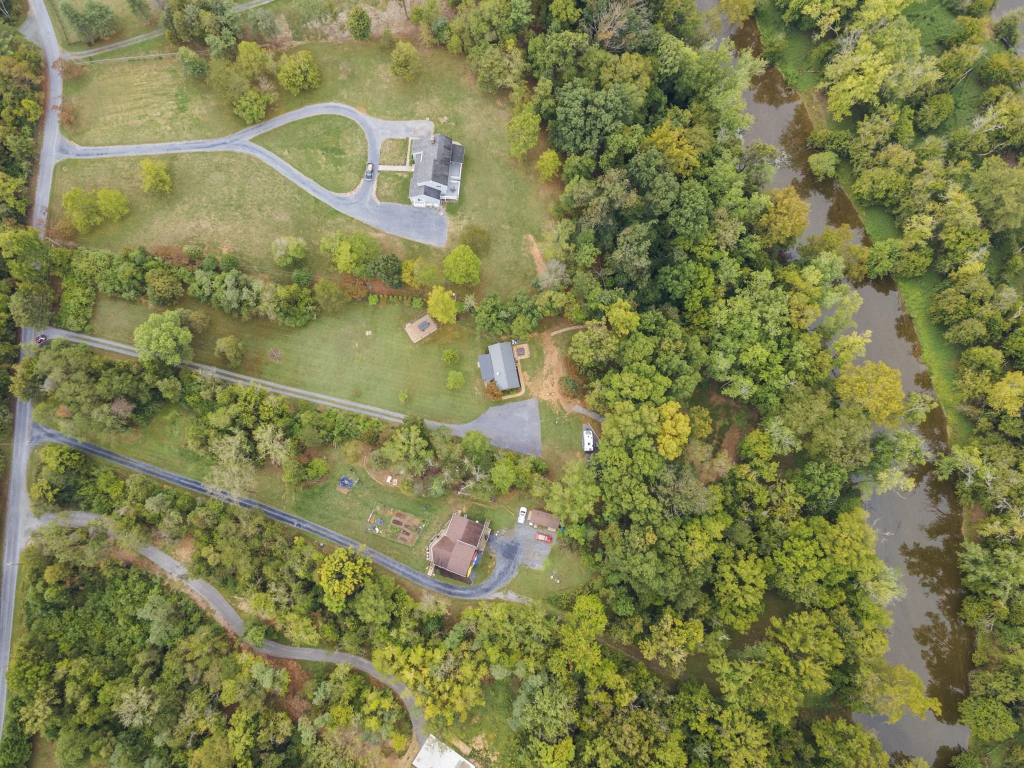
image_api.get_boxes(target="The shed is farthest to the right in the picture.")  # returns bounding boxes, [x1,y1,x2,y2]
[526,509,560,533]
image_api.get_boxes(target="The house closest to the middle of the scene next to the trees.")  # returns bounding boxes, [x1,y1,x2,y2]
[478,342,520,392]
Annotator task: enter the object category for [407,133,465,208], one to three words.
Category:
house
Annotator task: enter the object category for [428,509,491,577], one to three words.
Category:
house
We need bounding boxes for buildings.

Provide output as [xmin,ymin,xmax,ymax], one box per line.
[428,509,491,577]
[526,509,560,533]
[407,133,465,208]
[411,732,475,768]
[478,342,520,392]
